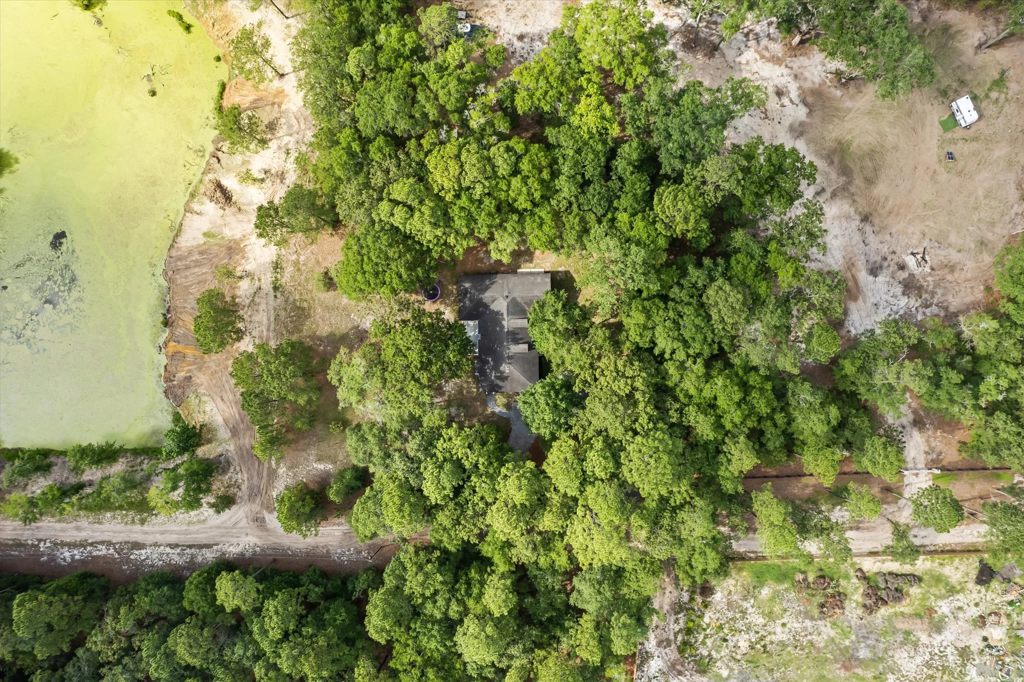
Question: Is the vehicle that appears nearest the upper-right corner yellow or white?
white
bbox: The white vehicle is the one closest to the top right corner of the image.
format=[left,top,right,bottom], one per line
[949,96,977,132]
